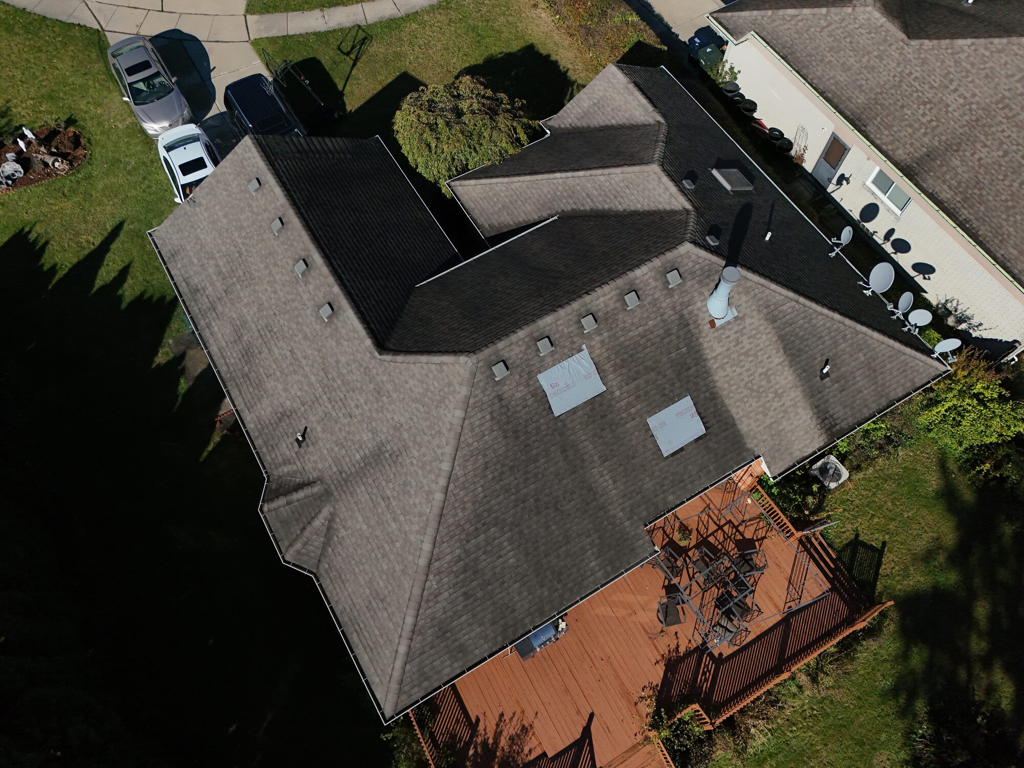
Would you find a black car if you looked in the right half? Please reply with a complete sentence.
No, there is no black car in the right half.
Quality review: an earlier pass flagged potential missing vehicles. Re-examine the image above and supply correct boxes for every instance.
[223,65,312,135]
[154,119,223,202]
[103,32,191,136]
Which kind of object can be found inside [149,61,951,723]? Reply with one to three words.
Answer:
house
